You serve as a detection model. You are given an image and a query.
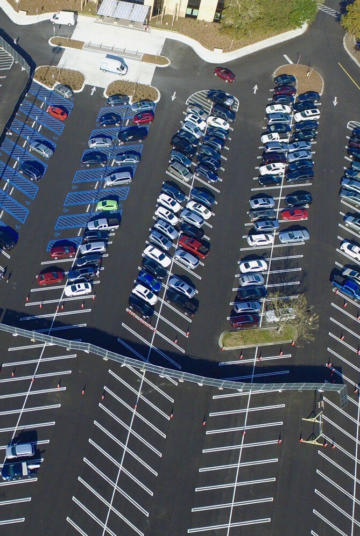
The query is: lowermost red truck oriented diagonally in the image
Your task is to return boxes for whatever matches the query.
[179,235,211,258]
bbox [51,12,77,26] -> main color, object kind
white vehicle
